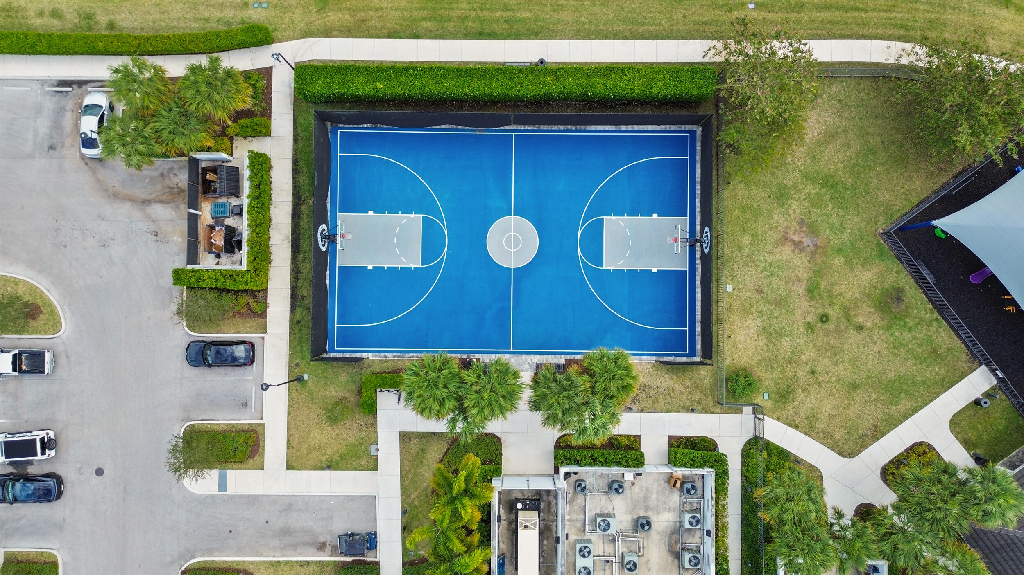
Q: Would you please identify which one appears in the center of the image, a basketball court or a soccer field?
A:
basketball court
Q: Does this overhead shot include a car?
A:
Yes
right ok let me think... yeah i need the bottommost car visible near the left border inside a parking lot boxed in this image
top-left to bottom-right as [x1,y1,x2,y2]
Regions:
[0,471,64,507]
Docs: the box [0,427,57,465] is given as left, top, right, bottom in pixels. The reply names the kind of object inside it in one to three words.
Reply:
car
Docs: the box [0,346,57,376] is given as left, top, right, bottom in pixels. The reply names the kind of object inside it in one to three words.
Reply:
truck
